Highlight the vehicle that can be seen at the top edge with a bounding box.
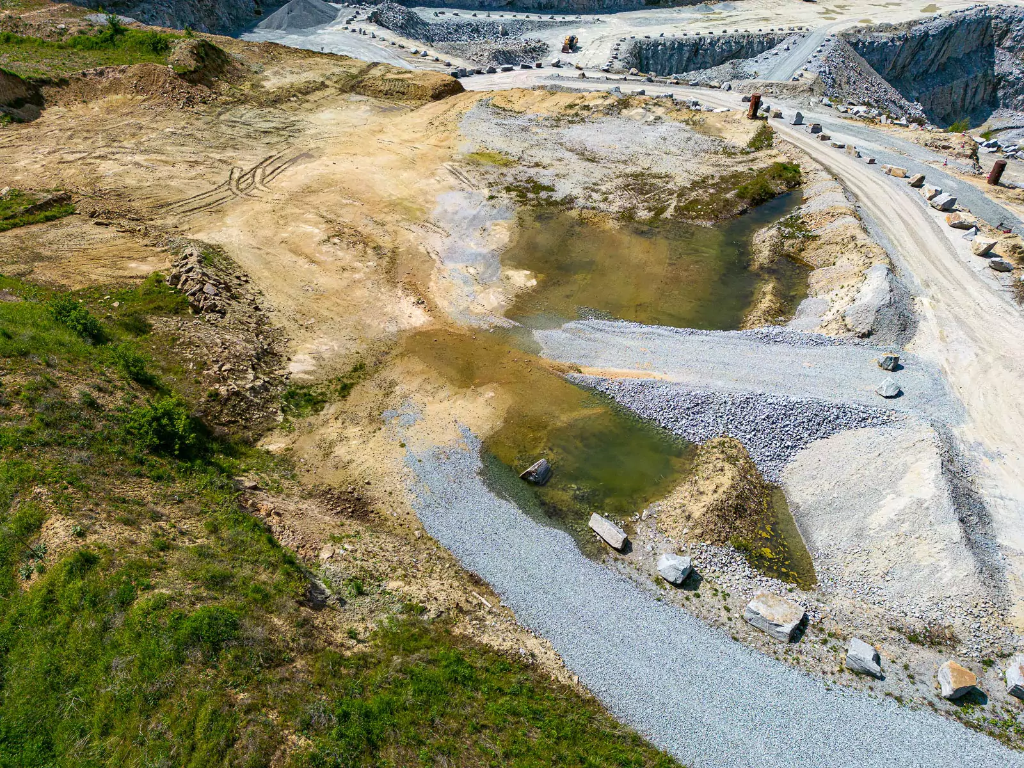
[558,34,584,55]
